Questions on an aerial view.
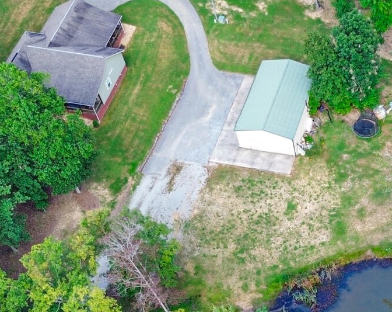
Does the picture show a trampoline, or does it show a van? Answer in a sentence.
There is a trampoline in the scene.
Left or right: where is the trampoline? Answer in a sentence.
The trampoline appears in the right half of the scene.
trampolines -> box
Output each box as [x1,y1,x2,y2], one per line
[352,105,380,138]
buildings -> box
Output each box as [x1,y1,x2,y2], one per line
[2,0,141,122]
[233,57,321,154]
